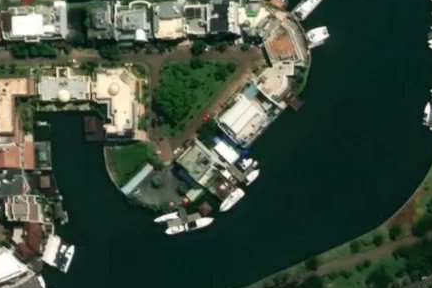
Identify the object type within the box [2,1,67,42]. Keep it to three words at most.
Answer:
house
